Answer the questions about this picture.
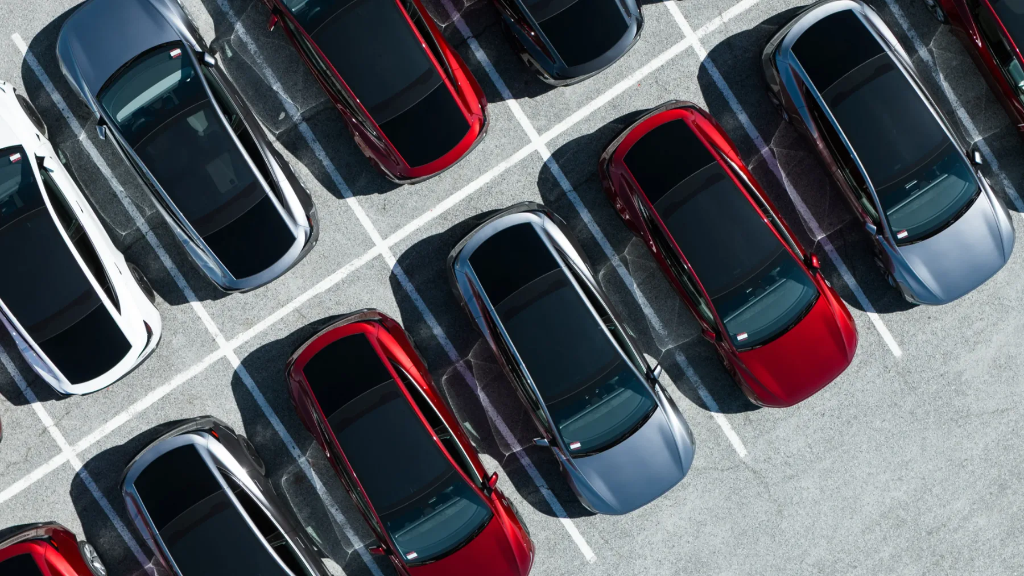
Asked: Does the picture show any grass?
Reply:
No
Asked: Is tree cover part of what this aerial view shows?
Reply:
No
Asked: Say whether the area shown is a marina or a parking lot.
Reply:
parking lot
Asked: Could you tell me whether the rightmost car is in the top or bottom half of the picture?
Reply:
top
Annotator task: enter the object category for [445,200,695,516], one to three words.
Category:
car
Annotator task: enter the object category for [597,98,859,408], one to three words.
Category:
car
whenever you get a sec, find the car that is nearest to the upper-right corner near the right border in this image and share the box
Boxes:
[925,0,1024,154]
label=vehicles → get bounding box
[445,200,695,516]
[761,0,1017,306]
[281,308,533,576]
[0,84,162,400]
[0,522,110,576]
[486,0,648,89]
[54,0,322,296]
[925,0,1024,154]
[597,98,859,408]
[259,0,492,188]
[117,417,338,576]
